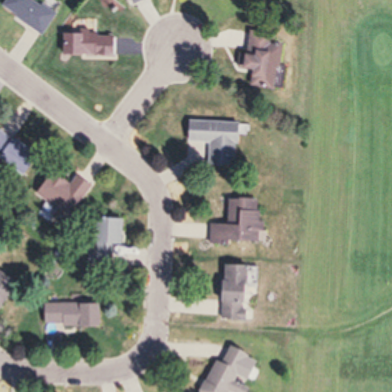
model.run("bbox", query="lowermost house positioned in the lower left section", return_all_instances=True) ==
[44,302,101,328]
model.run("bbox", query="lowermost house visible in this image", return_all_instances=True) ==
[200,346,259,392]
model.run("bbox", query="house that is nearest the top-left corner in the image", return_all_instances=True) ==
[2,0,55,34]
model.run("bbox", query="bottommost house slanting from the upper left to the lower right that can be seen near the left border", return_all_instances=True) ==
[0,127,34,170]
